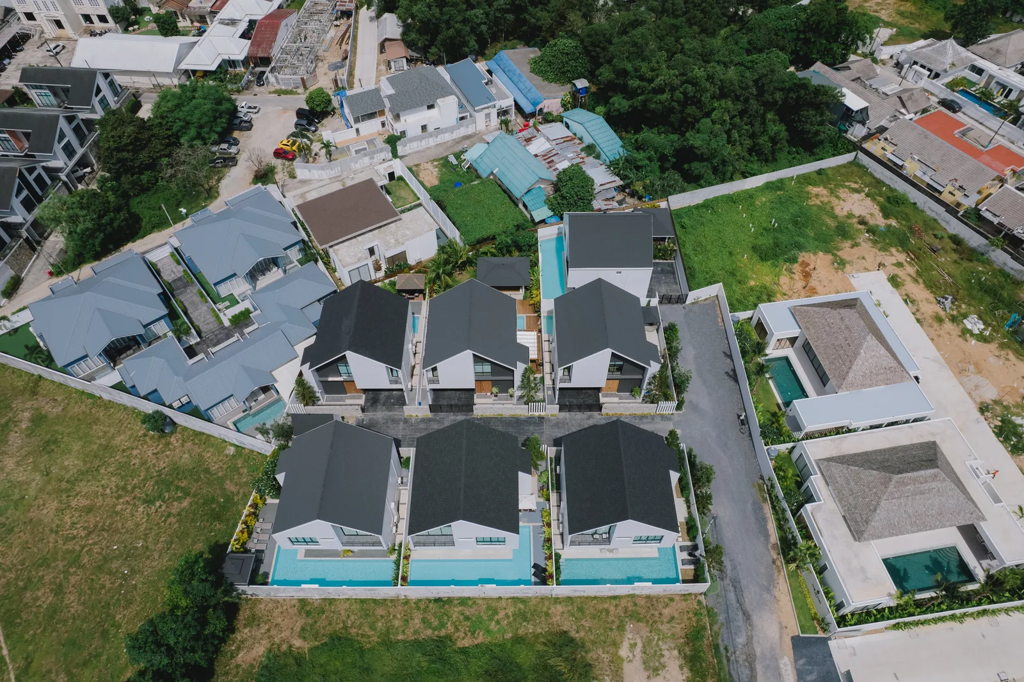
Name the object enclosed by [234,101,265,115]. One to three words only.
vehicle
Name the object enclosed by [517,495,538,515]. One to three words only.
umbrella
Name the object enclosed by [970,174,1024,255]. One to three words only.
house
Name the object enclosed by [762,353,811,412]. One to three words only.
swimming pool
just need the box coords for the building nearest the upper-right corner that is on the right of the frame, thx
[966,28,1024,75]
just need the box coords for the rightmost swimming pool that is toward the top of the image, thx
[955,90,1010,119]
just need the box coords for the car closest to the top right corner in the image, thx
[935,100,962,114]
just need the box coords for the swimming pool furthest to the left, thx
[231,398,288,436]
